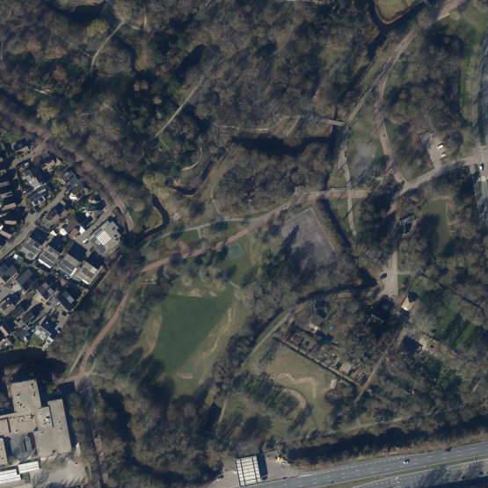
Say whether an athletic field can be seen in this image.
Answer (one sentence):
Yes, the image includes an athletic field.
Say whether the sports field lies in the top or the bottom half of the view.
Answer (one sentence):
You can find the sports field in the bottom half.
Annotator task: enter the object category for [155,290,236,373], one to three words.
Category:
sports field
